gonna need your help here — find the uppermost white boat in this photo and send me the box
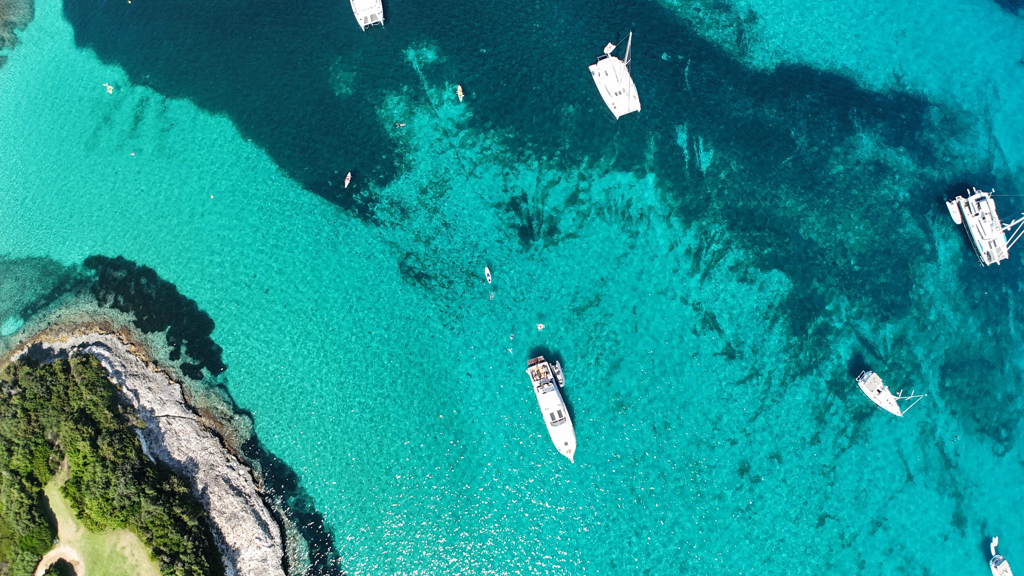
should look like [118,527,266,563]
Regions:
[347,0,386,36]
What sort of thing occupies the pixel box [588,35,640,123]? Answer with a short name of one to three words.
boat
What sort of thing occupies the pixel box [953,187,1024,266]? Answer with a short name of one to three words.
boat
